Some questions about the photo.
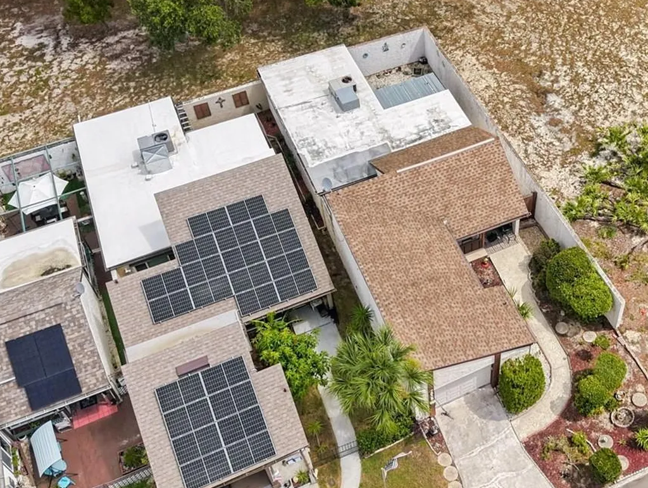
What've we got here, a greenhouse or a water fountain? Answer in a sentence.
There is a water fountain in the scene.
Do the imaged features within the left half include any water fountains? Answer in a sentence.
No, no water fountain appears within the left half.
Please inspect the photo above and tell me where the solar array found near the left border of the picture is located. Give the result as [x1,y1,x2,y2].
[6,315,90,412]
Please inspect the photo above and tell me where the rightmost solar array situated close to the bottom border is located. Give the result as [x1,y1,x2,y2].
[160,357,281,488]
